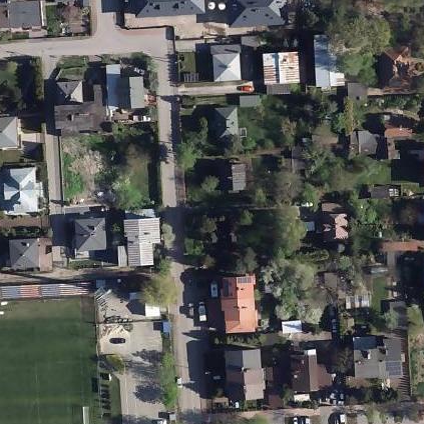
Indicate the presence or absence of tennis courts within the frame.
No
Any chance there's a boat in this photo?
No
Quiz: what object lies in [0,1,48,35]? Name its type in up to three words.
house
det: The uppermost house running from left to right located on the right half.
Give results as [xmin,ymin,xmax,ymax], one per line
[225,0,289,28]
